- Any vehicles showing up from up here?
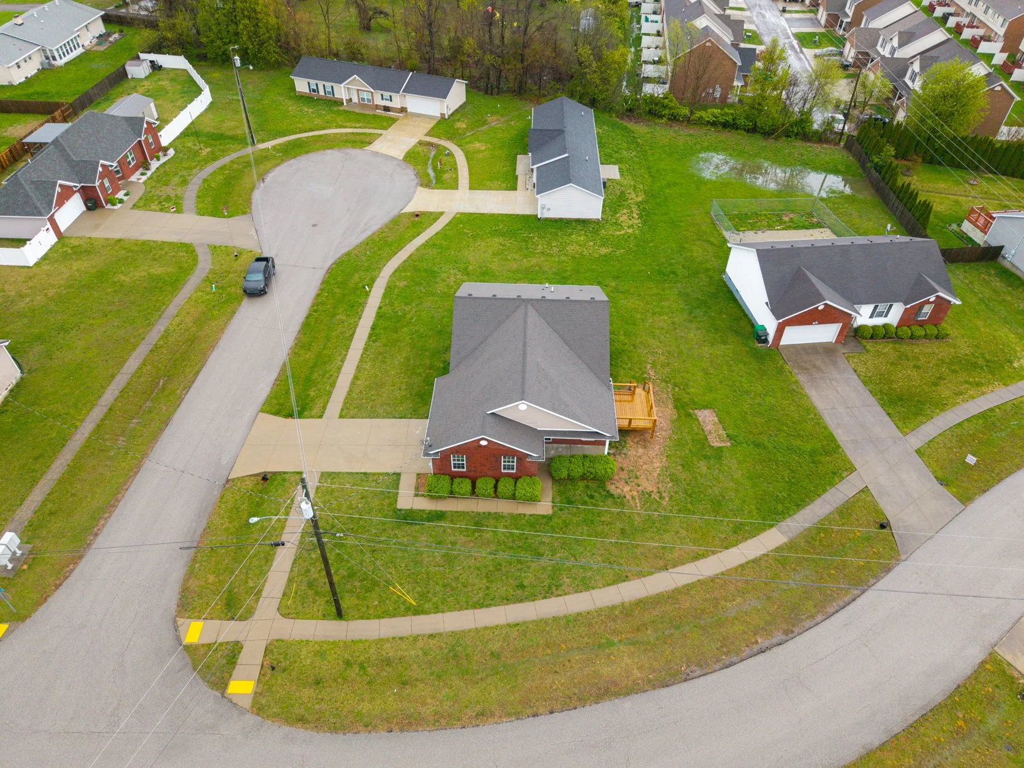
Yes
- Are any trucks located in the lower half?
No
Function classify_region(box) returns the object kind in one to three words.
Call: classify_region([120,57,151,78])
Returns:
shed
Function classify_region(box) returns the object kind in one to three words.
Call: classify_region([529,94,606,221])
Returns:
house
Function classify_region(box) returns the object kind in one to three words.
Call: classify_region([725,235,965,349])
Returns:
house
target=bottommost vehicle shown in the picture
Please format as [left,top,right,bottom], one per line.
[242,255,278,294]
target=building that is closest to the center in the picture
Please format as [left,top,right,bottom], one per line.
[421,282,619,481]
